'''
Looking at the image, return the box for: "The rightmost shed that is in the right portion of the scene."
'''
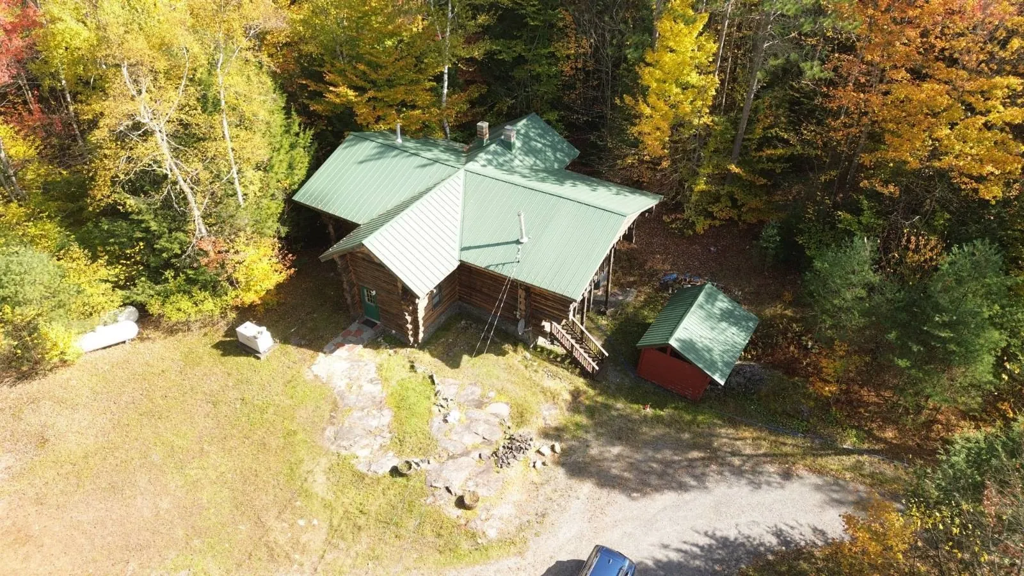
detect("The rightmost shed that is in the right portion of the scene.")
[631,282,754,402]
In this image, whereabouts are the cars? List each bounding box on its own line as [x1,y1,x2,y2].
[578,543,636,576]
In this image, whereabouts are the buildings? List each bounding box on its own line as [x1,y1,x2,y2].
[631,282,754,402]
[289,115,662,357]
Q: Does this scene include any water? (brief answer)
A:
No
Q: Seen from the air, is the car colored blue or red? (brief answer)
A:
blue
